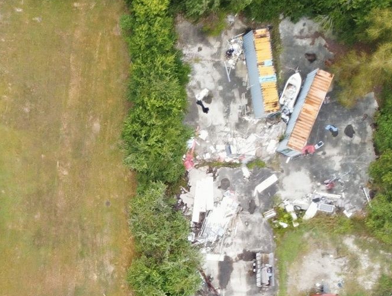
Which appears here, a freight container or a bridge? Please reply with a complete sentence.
It is a freight container that can be seen here.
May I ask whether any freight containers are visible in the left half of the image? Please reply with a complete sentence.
No, the scene shows no freight container in the left half of the image.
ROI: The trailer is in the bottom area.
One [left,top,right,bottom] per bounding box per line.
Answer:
[251,252,274,289]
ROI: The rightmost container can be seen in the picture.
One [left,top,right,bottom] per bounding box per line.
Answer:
[279,68,333,156]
